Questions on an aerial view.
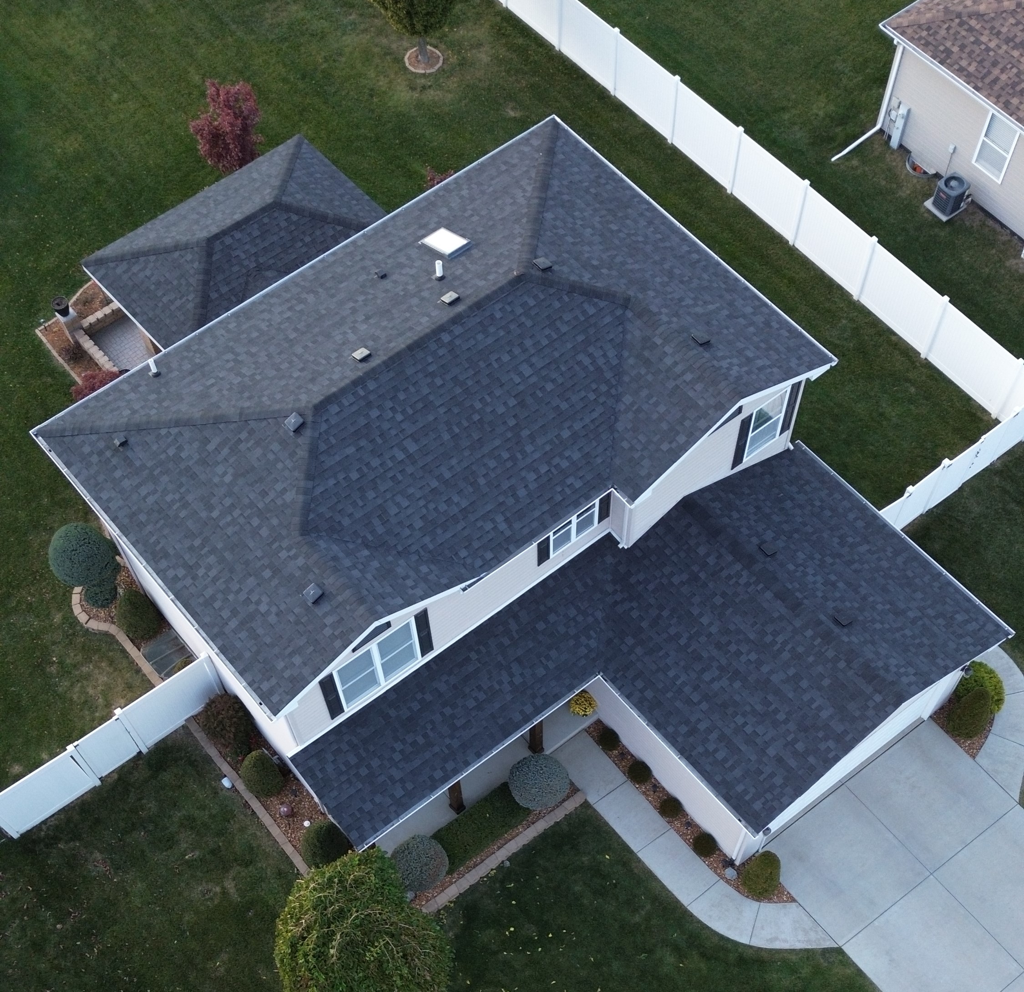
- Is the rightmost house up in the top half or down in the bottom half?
top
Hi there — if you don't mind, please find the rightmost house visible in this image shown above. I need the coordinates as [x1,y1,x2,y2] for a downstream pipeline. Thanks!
[831,0,1024,265]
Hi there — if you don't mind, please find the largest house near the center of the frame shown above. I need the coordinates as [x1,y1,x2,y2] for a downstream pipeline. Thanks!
[30,115,1014,868]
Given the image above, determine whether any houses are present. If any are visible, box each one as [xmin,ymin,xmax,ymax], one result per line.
[831,0,1024,265]
[30,115,1014,868]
